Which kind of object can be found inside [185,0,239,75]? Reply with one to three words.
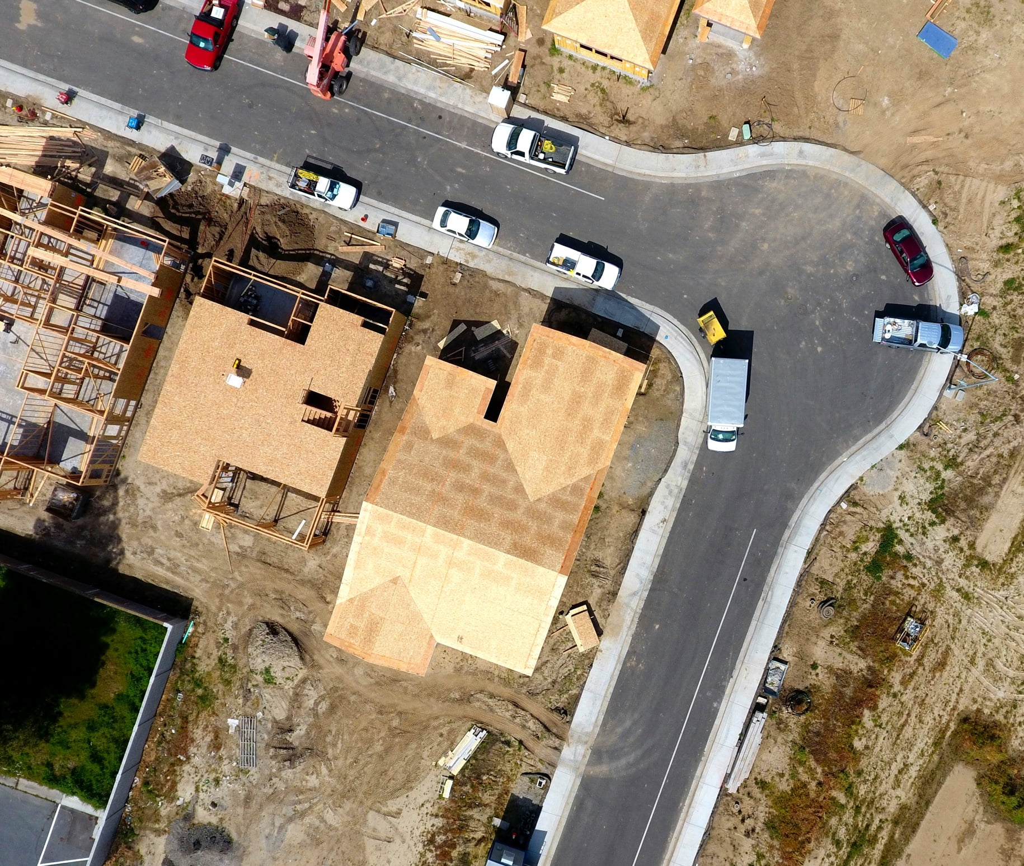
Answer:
truck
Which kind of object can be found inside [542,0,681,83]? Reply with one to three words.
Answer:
house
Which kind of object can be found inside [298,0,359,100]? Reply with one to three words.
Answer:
work vehicle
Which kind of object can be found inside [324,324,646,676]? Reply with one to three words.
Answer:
house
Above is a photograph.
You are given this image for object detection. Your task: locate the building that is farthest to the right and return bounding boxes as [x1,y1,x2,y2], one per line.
[692,0,776,51]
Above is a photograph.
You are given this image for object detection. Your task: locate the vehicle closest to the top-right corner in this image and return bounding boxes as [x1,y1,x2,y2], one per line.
[882,221,934,292]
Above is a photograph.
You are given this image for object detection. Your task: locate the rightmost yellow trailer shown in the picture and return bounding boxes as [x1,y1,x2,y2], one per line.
[696,311,726,357]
